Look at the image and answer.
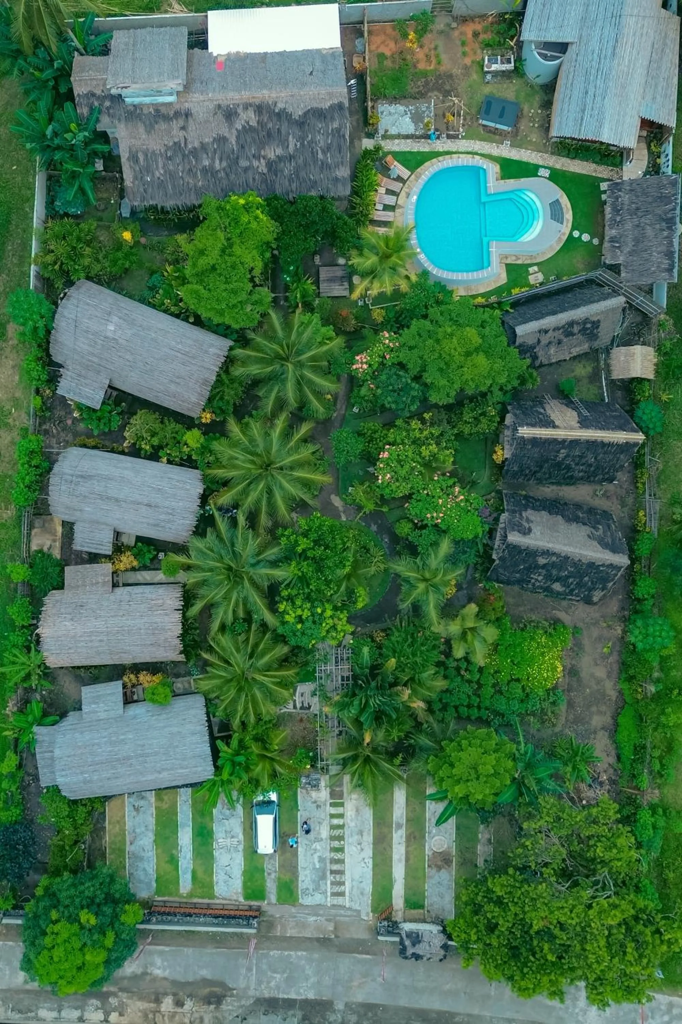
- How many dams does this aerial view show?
0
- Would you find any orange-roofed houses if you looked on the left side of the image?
No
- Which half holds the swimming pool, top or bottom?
top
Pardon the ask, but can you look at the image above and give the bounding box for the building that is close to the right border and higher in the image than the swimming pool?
[521,0,682,170]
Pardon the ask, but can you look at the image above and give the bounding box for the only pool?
[395,154,572,295]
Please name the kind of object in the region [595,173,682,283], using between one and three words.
building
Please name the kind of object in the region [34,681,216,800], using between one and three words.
house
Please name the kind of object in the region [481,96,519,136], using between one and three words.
building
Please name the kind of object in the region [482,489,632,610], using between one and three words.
house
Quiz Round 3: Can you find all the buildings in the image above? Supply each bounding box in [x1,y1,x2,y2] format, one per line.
[48,446,203,555]
[481,96,519,136]
[500,281,630,372]
[38,564,188,668]
[500,397,648,485]
[595,173,682,283]
[34,681,216,800]
[521,0,682,170]
[69,24,354,218]
[50,279,234,417]
[482,489,632,610]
